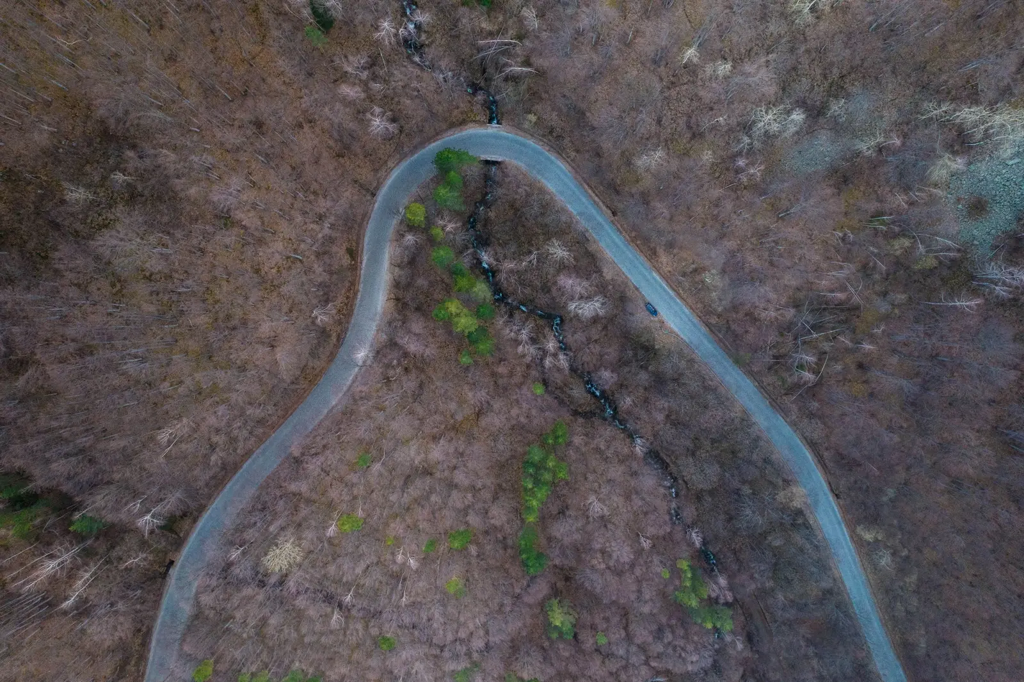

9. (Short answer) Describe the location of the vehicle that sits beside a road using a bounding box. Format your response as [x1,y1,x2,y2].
[644,302,658,318]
